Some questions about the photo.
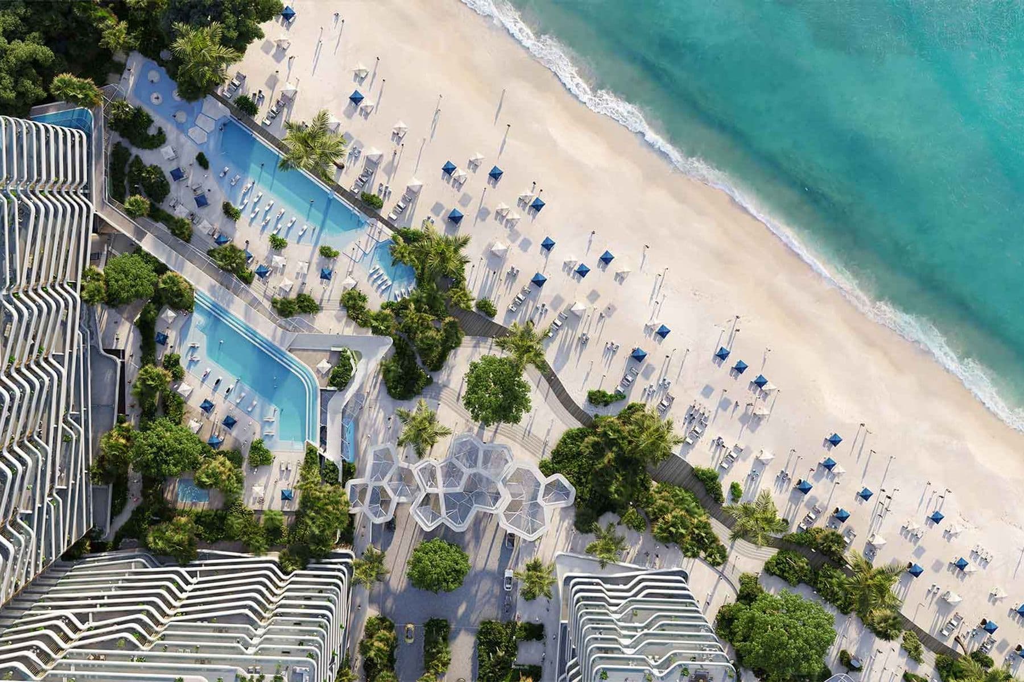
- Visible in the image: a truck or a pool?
pool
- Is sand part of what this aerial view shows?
Yes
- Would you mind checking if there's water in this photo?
Yes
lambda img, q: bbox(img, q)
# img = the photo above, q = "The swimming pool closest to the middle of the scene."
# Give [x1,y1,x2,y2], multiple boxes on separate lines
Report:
[342,232,416,298]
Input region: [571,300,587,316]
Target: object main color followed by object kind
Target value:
white umbrella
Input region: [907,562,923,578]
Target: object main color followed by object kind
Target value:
blue umbrella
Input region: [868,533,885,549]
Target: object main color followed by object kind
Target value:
white umbrella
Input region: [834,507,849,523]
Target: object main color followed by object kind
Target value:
blue umbrella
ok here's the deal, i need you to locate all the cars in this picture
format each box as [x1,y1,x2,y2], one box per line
[505,530,515,551]
[503,570,514,591]
[405,623,415,643]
